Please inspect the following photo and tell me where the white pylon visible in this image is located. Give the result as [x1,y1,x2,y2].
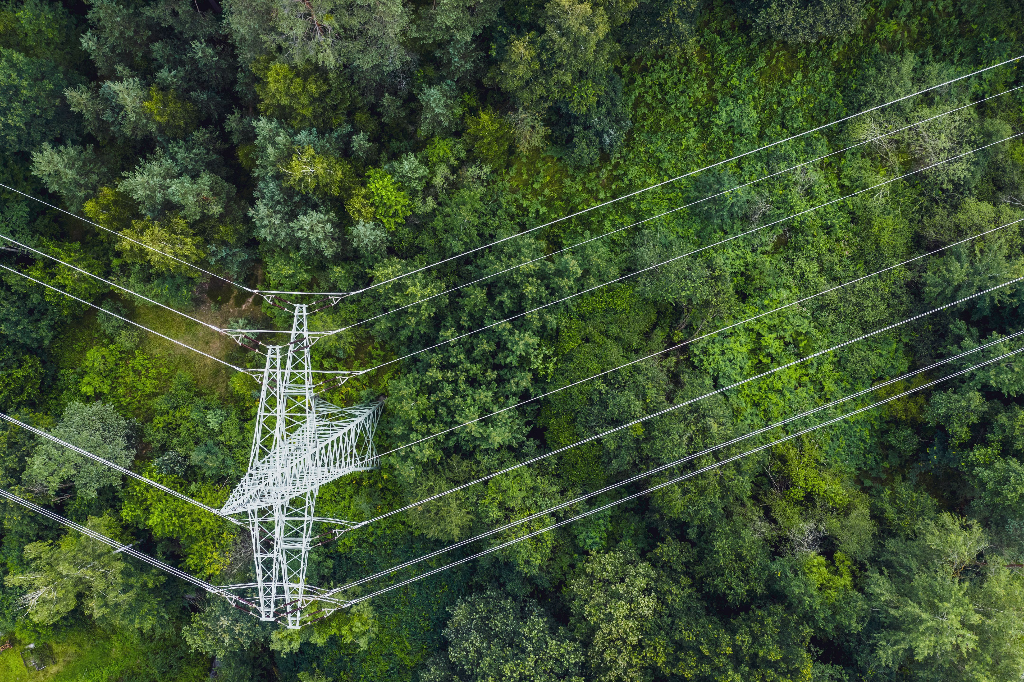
[214,306,390,630]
